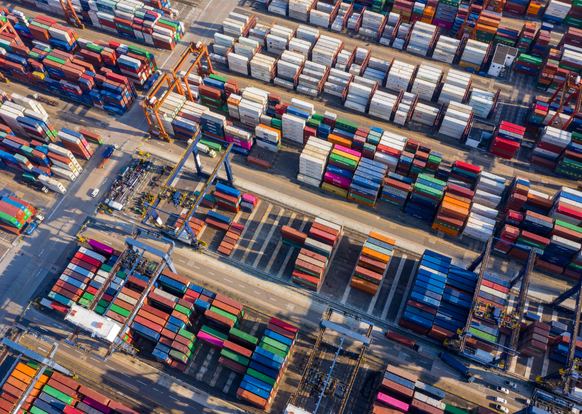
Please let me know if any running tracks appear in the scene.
No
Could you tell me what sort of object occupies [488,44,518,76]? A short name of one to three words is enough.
building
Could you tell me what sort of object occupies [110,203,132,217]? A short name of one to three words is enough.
vehicle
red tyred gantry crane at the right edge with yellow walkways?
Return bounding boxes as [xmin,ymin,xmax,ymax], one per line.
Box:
[542,76,582,130]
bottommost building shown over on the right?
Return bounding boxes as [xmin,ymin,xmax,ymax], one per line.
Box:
[465,119,495,147]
